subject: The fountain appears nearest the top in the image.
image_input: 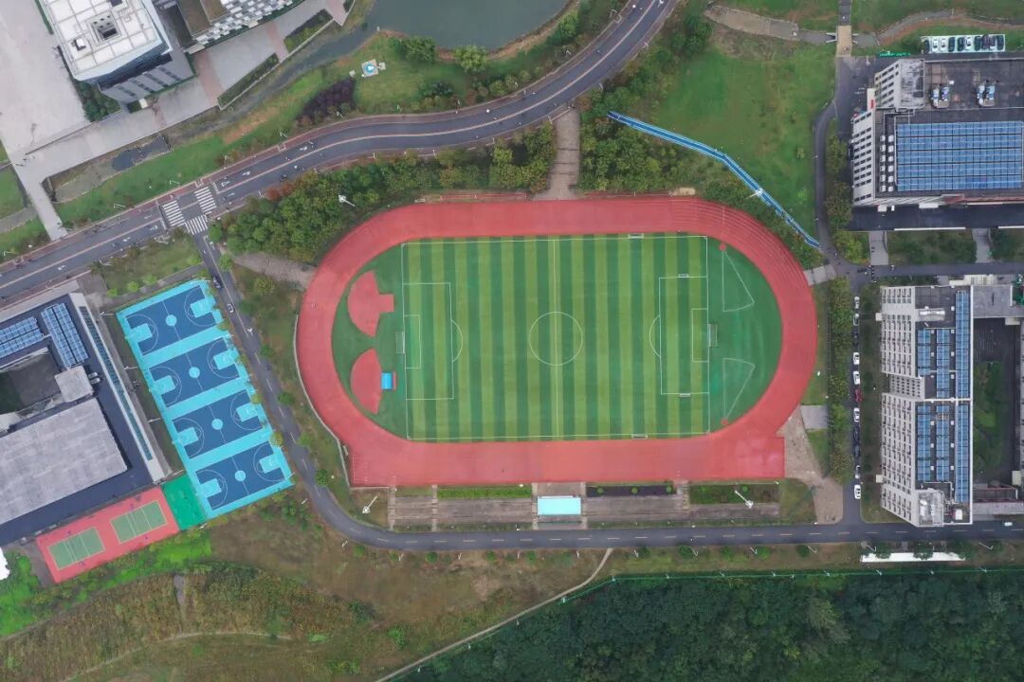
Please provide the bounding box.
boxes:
[361,58,378,77]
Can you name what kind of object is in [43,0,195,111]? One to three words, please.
building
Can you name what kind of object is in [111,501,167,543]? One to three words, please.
sports court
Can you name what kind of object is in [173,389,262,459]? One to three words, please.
basketball court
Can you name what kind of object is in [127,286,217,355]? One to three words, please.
basketball court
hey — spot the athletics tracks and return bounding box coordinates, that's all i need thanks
[297,195,818,487]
